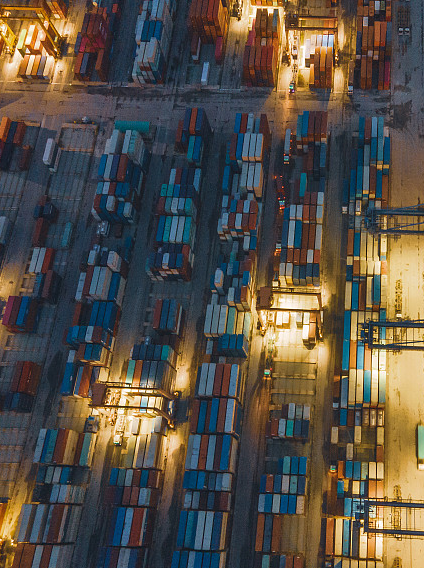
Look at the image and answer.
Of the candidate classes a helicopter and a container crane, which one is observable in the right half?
container crane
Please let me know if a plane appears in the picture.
No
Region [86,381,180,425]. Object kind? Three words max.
container crane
